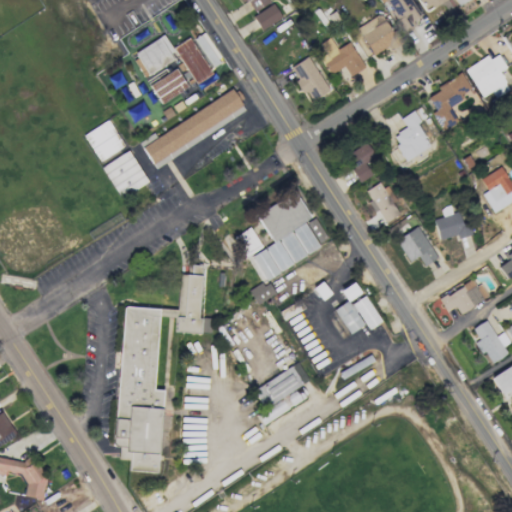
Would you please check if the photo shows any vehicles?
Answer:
Yes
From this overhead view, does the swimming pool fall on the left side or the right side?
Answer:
right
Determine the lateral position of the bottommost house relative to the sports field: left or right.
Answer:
left of it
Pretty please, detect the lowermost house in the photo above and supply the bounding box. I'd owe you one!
[0,460,48,500]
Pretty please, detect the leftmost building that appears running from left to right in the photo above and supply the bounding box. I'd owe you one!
[2,274,38,290]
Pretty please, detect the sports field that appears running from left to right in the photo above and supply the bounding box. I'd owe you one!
[216,404,464,512]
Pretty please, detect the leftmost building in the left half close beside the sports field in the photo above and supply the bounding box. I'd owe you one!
[116,264,213,474]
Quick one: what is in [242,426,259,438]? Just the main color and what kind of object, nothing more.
white vehicle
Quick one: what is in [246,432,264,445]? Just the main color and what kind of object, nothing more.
white vehicle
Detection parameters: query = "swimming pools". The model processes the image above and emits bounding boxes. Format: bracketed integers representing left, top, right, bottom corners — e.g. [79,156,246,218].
[475,272,498,296]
